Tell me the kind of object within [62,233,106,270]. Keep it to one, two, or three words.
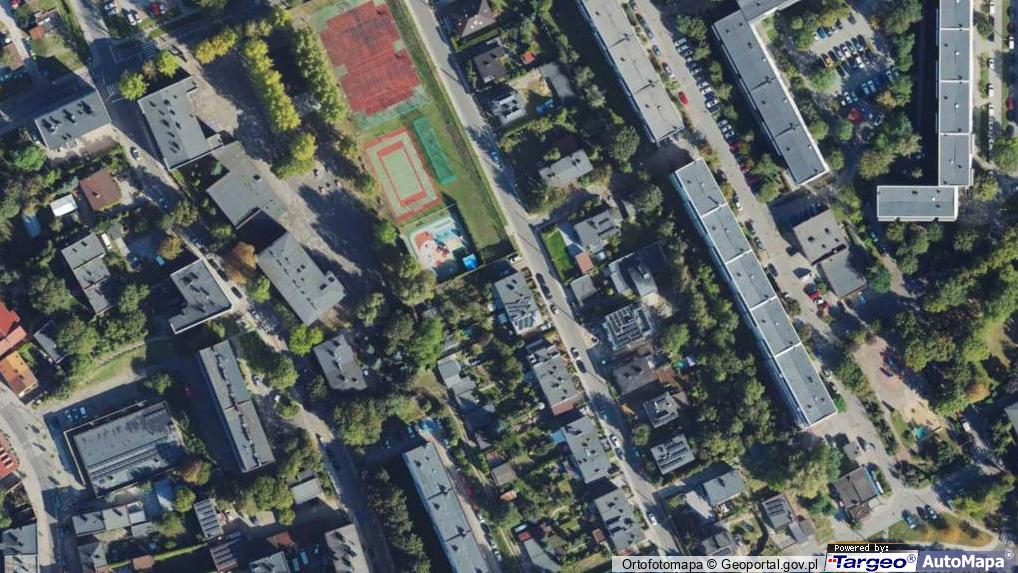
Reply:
house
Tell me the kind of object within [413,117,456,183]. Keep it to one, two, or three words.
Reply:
sports court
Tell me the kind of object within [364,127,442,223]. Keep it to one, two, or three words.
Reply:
sports court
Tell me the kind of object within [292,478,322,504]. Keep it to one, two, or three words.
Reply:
building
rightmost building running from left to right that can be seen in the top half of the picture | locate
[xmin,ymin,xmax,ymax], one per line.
[873,186,956,221]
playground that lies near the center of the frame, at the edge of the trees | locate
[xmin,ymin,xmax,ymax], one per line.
[402,210,482,280]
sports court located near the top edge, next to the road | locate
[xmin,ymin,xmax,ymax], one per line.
[309,0,430,130]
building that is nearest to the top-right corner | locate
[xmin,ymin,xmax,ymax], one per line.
[933,0,972,187]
